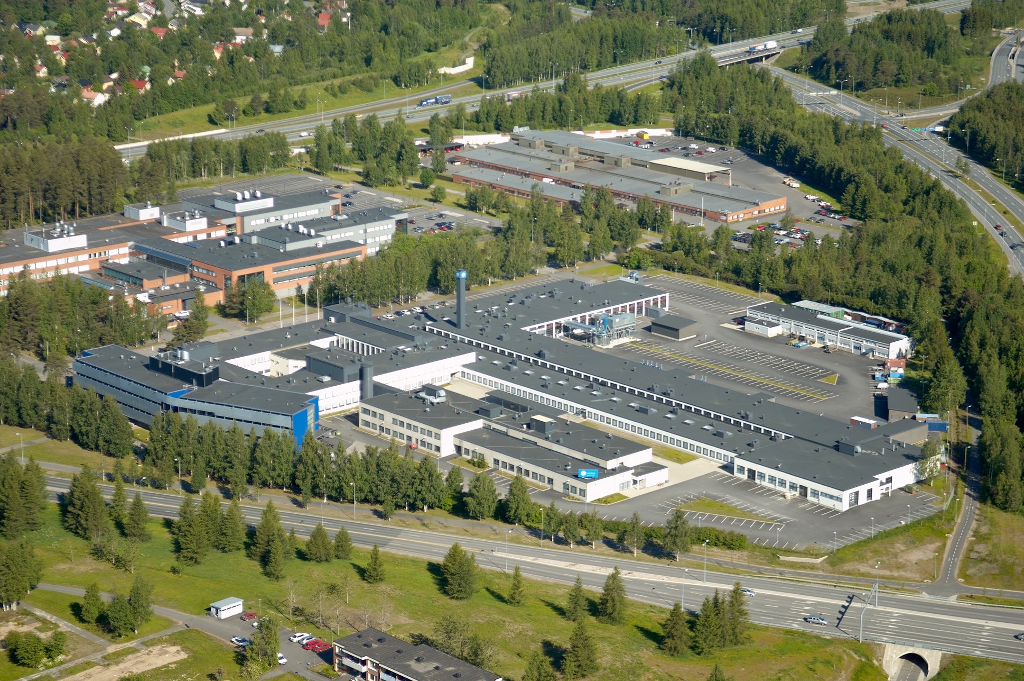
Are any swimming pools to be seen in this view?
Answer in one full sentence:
No, no swimming pool can be seen from above.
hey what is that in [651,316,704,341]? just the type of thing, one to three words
building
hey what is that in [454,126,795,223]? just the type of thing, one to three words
building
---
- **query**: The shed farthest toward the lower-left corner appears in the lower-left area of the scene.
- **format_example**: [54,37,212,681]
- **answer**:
[209,595,242,619]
